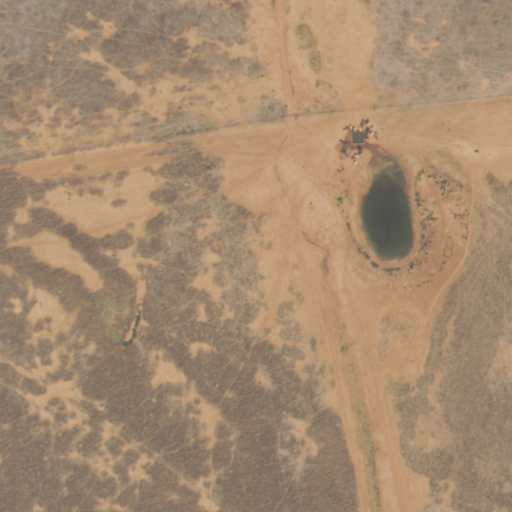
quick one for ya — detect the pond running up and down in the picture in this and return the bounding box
[364,164,412,258]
